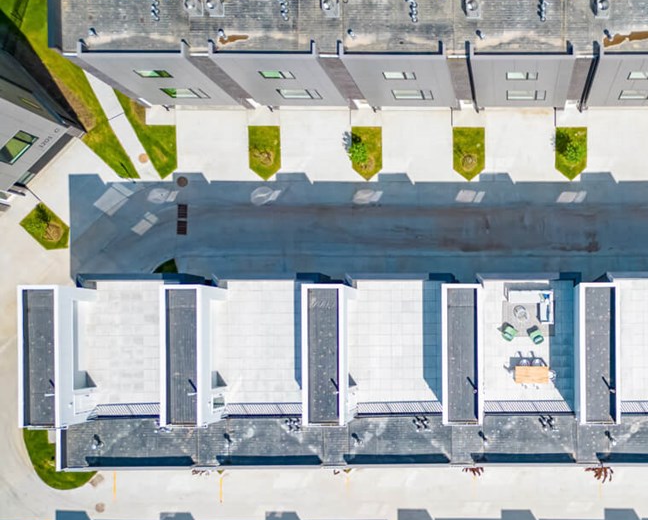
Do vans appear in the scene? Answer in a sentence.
No, no van is visible in the view.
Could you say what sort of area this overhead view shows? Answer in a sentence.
This image shows a residential area.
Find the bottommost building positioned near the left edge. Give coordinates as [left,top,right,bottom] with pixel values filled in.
[18,273,218,473]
